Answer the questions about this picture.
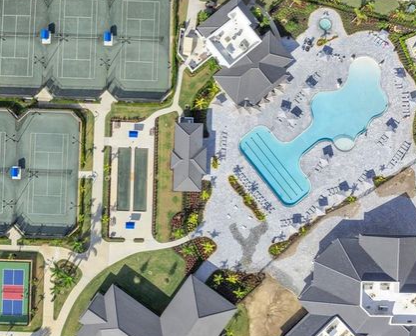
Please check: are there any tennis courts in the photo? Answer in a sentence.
Yes, there is a tennis court in the image.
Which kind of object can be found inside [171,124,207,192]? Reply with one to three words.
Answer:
building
